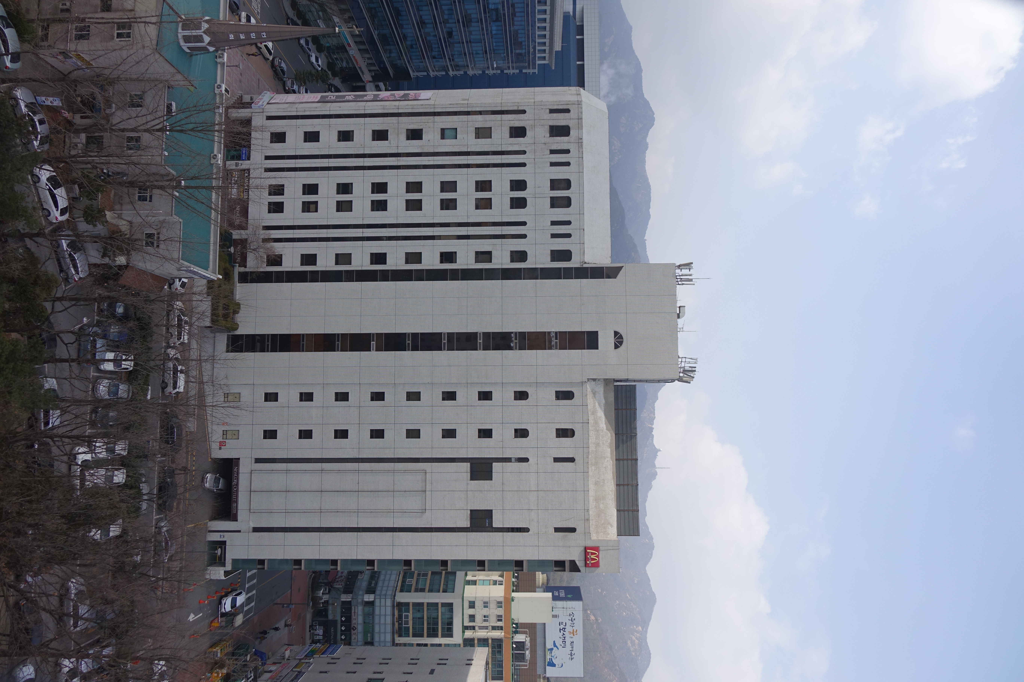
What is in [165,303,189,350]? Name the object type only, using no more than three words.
car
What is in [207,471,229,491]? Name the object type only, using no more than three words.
car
